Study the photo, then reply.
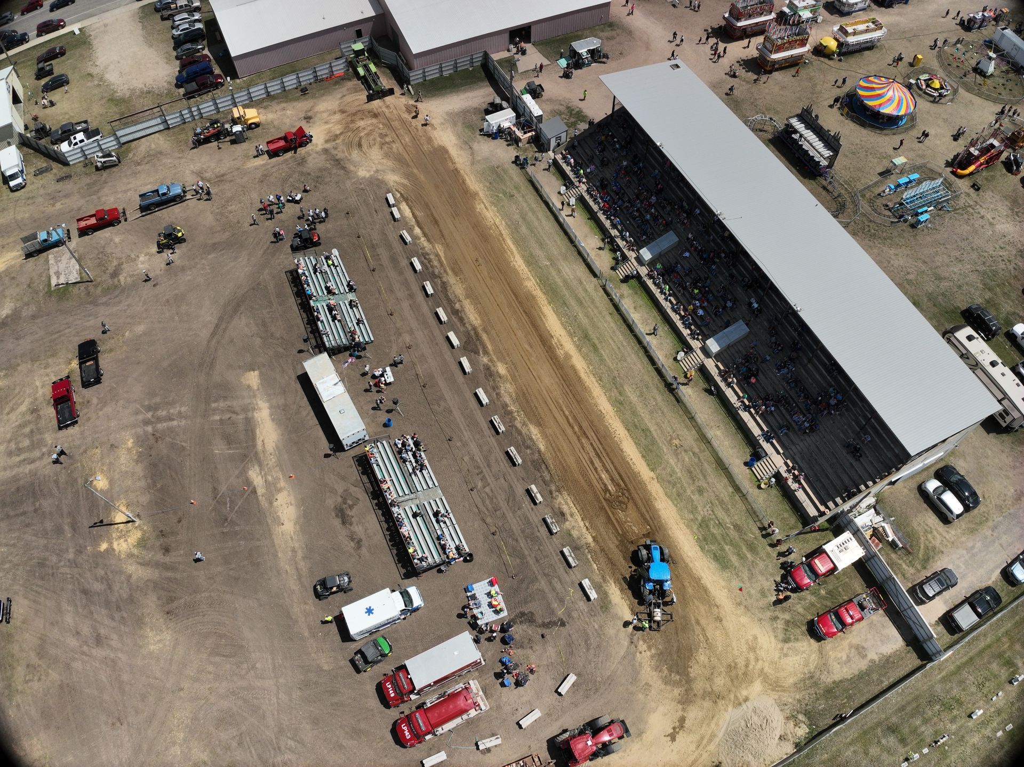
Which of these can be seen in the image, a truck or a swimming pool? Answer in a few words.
truck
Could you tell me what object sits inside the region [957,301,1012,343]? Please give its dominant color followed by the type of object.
black car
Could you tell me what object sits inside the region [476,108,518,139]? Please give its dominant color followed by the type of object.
white trailer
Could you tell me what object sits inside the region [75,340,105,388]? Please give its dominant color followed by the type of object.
black truck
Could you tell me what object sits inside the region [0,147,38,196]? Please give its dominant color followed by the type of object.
white van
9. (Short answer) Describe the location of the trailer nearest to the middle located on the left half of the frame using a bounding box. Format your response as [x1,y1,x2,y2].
[307,353,370,458]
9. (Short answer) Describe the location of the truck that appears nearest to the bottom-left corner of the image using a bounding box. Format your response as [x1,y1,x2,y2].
[0,599,21,623]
